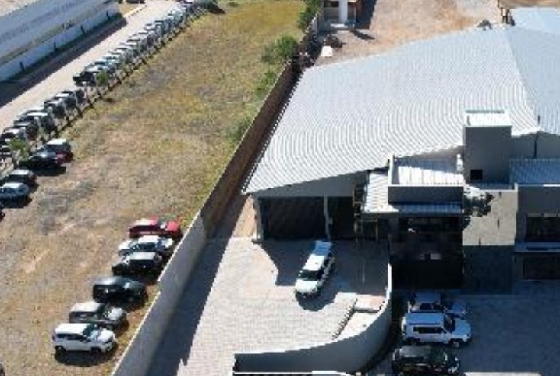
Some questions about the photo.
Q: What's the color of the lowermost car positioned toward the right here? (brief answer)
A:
black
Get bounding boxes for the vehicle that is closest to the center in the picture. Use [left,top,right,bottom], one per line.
[293,239,338,290]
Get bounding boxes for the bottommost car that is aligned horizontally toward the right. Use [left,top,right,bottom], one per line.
[391,345,462,376]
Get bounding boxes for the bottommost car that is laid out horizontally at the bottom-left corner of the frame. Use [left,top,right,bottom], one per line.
[45,320,123,356]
